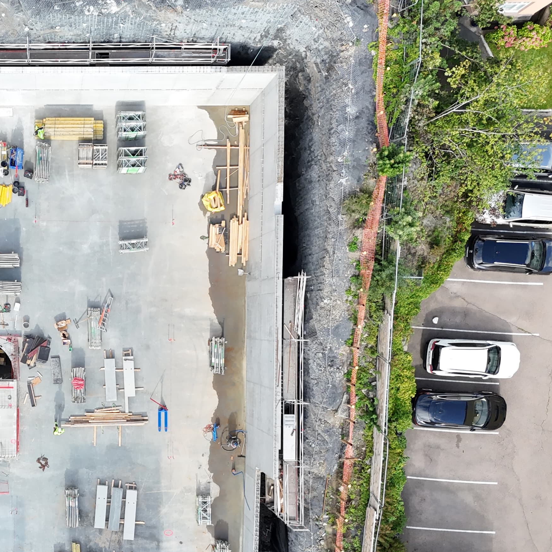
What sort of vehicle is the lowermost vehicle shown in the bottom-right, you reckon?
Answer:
automobile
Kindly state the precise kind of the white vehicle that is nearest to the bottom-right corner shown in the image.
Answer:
automobile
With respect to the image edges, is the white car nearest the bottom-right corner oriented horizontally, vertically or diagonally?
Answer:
horizontally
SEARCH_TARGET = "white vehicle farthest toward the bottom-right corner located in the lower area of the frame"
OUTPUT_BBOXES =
[420,335,519,383]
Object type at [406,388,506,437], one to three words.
car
